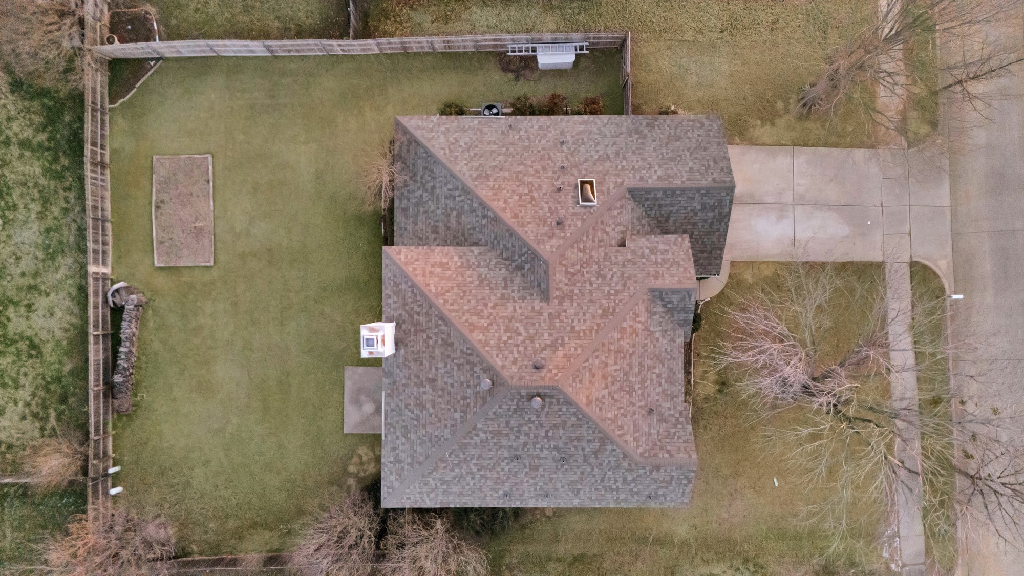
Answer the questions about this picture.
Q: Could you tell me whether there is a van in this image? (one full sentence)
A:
No, no van is visible in the scene.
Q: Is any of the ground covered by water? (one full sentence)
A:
No, the scene doesn't show any water.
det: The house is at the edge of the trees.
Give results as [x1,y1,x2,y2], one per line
[360,113,735,510]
